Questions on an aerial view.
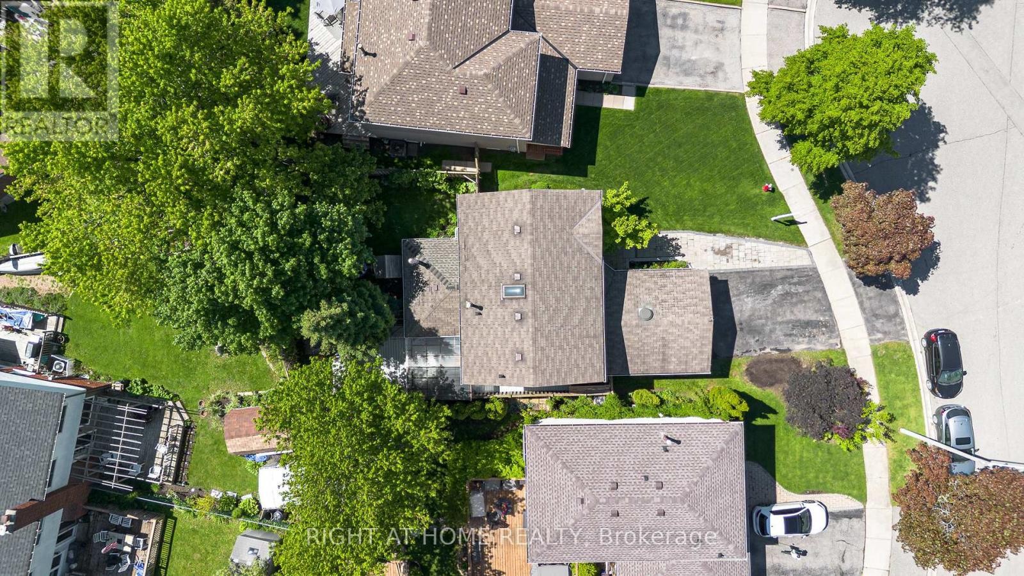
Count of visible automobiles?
3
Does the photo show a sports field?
No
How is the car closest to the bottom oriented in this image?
from side to side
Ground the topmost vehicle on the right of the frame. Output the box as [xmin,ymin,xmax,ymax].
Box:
[920,329,966,399]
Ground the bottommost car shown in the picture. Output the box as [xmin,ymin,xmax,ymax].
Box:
[757,501,831,539]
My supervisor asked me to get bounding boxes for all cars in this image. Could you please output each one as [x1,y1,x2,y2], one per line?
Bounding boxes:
[931,405,976,477]
[920,329,966,399]
[757,501,831,539]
